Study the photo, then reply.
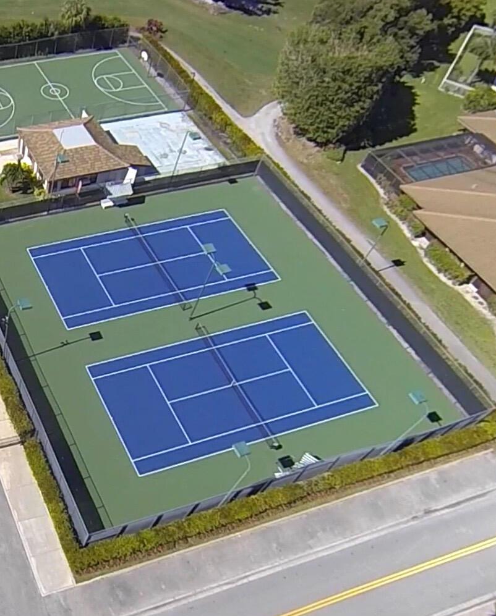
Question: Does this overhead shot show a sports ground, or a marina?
sports ground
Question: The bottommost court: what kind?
tennis court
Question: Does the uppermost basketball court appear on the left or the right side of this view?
left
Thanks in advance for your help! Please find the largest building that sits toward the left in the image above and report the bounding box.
[17,116,152,195]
